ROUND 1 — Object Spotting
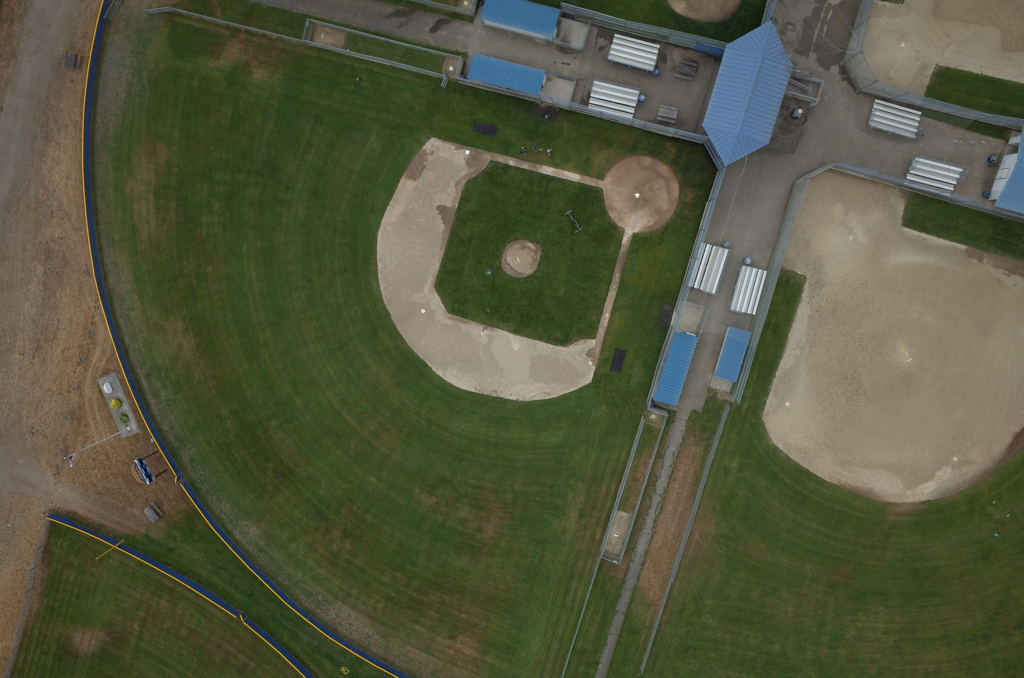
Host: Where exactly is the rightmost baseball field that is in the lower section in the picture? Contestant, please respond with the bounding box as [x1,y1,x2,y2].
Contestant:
[638,165,1024,678]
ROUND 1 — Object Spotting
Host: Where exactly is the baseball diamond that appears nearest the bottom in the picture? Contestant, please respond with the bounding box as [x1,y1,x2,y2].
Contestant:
[10,515,306,678]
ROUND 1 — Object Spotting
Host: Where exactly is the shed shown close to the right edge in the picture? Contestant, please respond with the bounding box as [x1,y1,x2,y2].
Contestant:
[988,125,1024,213]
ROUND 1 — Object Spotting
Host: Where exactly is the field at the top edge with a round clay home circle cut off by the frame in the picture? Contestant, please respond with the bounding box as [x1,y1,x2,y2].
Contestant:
[550,0,767,49]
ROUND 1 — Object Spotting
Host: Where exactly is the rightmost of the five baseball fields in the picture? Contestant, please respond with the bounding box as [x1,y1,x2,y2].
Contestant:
[843,0,1024,131]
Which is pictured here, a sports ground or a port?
sports ground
